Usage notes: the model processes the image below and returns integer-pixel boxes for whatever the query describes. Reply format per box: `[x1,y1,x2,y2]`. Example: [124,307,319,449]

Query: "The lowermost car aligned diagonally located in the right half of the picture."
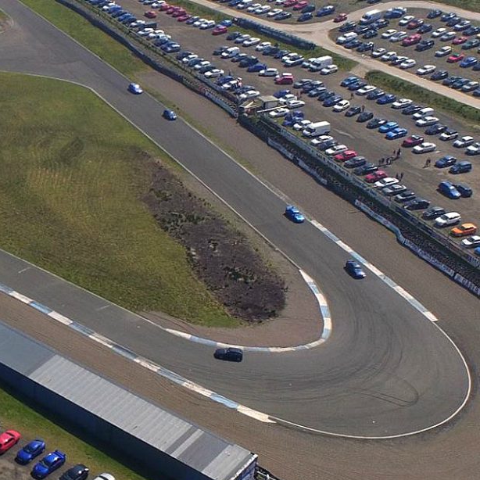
[340,258,369,280]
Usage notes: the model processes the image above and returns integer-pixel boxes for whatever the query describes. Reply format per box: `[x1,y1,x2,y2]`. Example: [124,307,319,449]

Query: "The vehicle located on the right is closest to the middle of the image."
[282,204,307,222]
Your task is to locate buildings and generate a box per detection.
[246,95,280,125]
[0,322,259,480]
